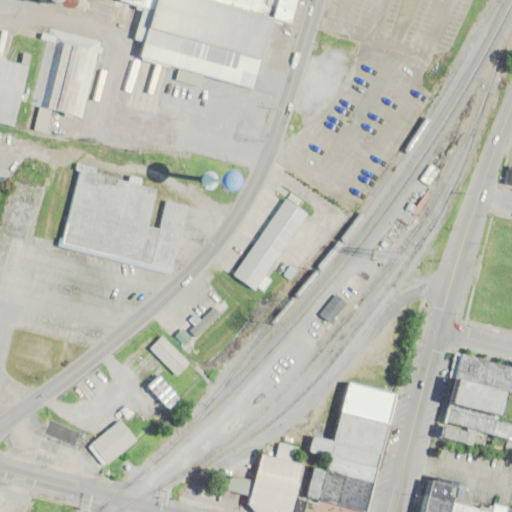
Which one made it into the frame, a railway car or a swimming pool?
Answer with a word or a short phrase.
railway car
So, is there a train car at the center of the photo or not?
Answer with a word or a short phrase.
Yes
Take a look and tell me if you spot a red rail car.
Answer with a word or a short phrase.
No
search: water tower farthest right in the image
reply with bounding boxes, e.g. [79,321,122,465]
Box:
[202,169,242,190]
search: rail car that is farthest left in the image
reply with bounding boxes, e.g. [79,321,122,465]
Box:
[270,298,296,325]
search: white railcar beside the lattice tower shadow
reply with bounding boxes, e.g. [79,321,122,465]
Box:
[339,214,363,242]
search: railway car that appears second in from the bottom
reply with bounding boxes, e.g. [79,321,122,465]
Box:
[294,271,318,298]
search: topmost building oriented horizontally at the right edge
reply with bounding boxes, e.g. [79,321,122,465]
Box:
[450,354,512,394]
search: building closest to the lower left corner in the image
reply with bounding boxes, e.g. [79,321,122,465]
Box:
[88,420,137,468]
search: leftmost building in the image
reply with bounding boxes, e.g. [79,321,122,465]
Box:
[0,54,32,128]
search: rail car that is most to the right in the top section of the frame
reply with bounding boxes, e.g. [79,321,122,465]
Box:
[405,120,430,152]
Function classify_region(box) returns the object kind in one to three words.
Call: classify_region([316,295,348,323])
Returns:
shed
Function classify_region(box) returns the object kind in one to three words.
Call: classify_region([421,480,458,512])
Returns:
building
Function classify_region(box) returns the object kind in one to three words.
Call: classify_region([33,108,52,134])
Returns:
shed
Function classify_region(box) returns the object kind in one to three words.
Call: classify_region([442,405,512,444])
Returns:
building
